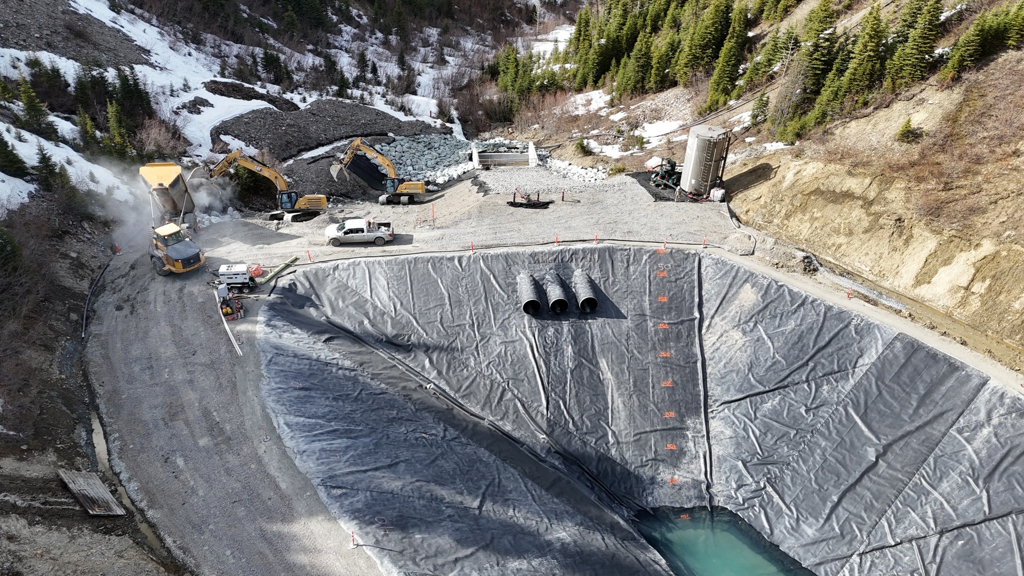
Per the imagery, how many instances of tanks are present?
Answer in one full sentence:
The photo contains exactly 1 tank.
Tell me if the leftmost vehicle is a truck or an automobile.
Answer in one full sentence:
It turns out the leftmost vehicle is a truck.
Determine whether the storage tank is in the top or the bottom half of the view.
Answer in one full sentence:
The storage tank is in the top half of the image.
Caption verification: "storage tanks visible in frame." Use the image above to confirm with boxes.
[680,123,734,196]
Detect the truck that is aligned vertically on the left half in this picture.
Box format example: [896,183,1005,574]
[138,152,206,277]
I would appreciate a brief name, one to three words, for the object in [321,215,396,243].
truck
